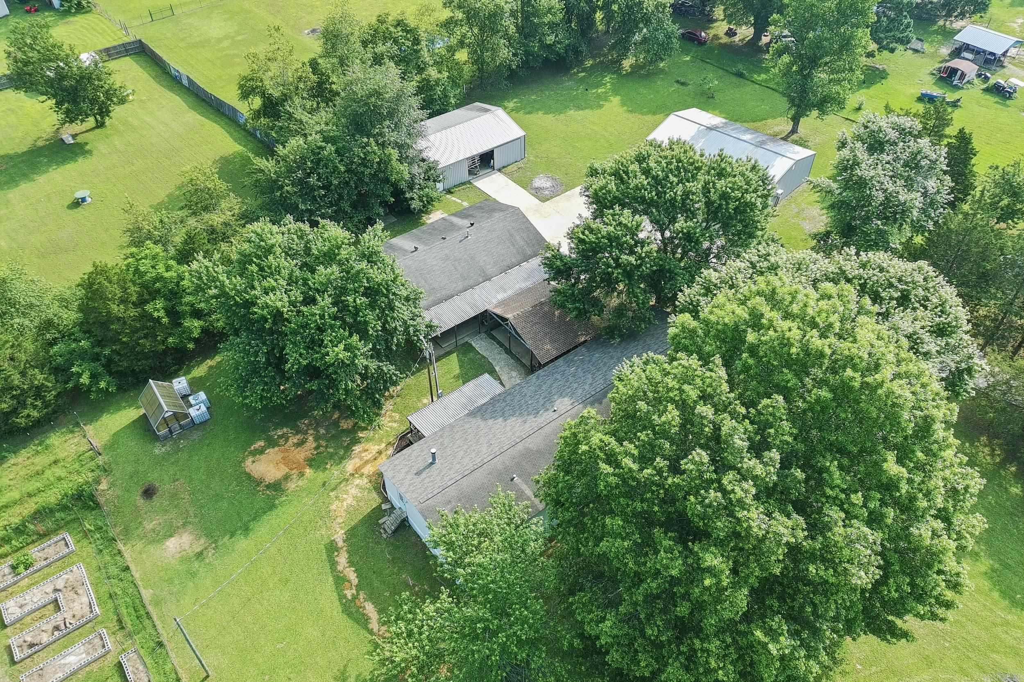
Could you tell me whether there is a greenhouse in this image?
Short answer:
Yes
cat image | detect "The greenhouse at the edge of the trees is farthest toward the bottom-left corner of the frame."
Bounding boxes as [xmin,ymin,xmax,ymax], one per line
[137,377,195,441]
